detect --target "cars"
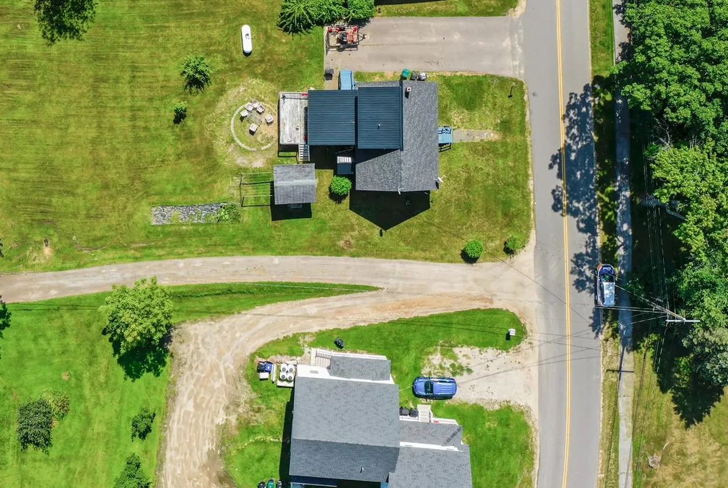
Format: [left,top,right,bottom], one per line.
[593,263,618,308]
[411,377,457,401]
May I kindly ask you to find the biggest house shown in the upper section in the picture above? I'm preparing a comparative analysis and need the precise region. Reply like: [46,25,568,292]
[307,80,439,193]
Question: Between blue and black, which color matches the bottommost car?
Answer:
blue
